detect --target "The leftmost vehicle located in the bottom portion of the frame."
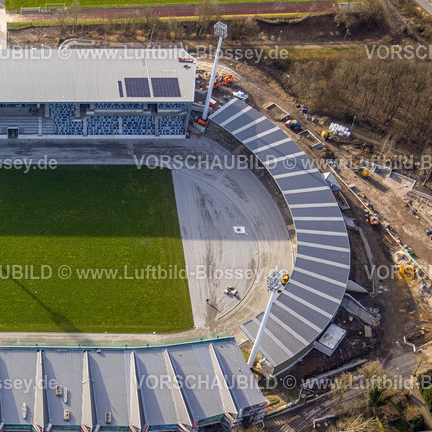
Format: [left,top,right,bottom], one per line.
[222,284,242,299]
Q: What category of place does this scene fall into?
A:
sports ground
